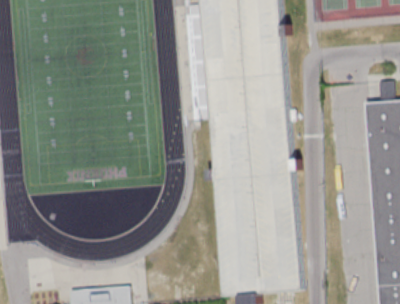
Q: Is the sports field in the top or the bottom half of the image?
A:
top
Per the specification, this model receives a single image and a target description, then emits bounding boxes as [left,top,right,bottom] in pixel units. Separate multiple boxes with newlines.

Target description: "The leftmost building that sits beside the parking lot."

[198,0,306,304]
